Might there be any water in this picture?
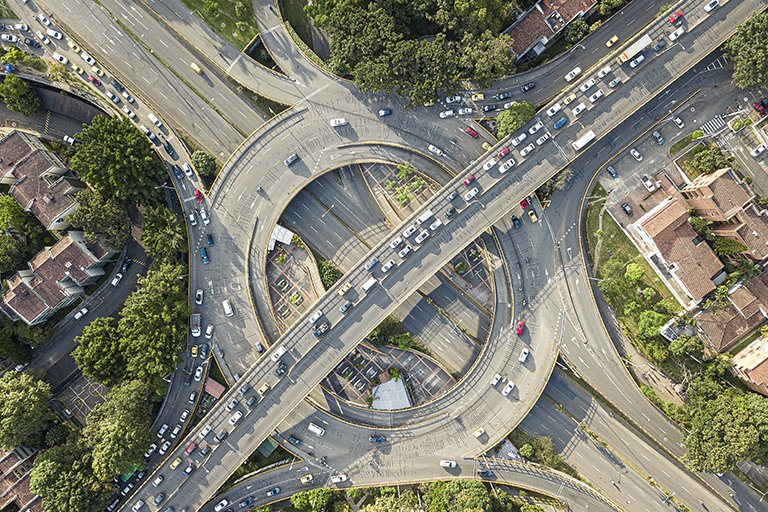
No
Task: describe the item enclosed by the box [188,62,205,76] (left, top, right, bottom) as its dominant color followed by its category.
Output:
white vehicle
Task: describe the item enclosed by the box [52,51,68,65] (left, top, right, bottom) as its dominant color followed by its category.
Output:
white car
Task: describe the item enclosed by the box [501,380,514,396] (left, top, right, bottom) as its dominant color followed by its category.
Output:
white vehicle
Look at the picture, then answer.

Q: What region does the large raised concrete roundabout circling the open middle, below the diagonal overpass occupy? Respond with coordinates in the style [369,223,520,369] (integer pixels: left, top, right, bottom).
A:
[203,76,564,493]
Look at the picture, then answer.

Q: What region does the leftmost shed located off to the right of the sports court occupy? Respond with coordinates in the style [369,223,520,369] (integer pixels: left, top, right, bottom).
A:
[202,375,228,400]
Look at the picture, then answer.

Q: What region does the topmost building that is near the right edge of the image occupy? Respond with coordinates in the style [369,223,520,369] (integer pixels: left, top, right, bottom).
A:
[683,168,760,232]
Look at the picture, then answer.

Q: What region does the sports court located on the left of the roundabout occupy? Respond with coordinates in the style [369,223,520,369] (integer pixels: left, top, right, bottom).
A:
[56,376,115,424]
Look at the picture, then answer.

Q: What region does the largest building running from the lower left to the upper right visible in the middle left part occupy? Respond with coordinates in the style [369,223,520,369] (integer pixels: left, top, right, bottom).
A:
[4,238,122,325]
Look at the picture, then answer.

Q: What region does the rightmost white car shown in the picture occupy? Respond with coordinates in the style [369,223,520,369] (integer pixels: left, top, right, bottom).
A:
[751,143,766,157]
